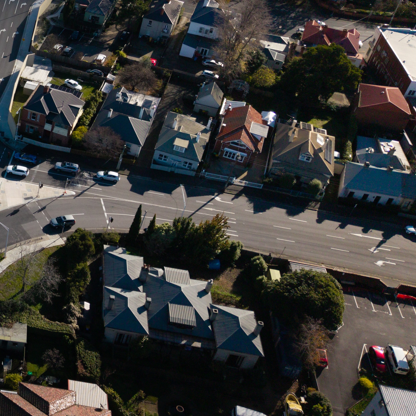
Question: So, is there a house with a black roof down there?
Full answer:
Yes, there's a house with a black roof down there.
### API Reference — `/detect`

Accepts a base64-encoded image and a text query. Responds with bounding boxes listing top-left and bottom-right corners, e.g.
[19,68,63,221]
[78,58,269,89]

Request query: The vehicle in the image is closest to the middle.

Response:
[97,172,120,185]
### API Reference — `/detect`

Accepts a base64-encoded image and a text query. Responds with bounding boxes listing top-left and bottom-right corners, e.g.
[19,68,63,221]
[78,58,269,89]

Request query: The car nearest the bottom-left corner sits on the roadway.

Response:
[49,216,76,230]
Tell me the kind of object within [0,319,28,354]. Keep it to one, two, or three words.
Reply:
building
